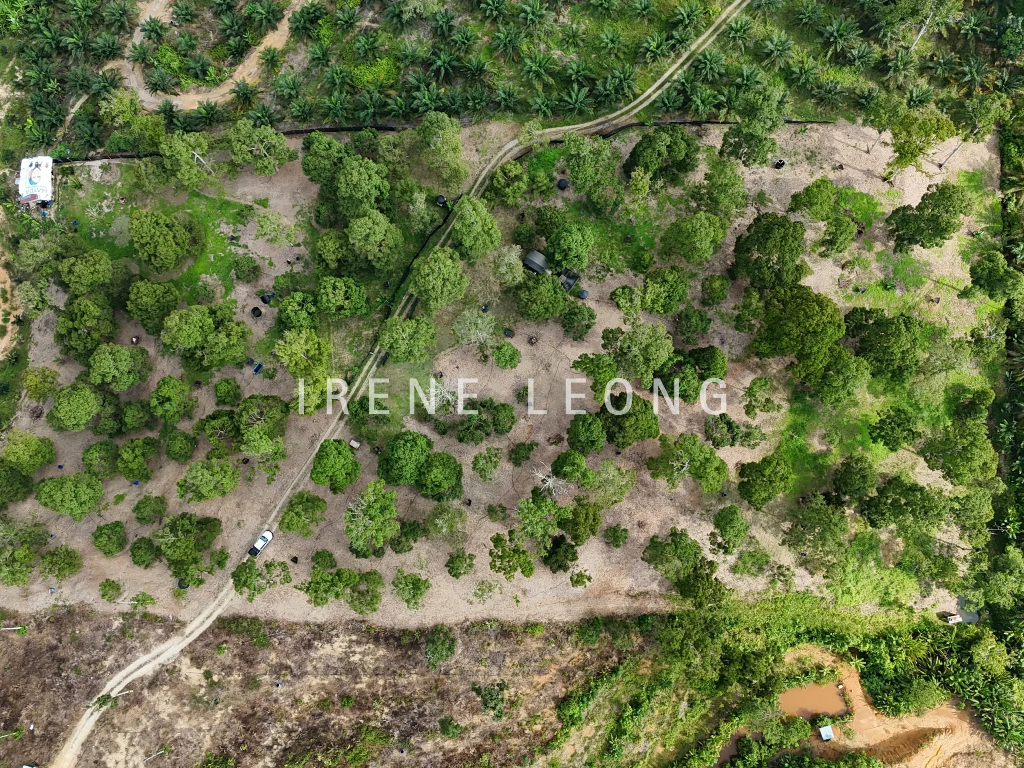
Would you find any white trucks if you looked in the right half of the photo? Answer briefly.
No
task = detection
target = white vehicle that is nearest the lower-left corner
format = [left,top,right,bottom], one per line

[249,530,275,559]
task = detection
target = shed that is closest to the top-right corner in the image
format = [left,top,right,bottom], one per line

[523,249,547,272]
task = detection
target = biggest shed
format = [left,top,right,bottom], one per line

[15,156,59,204]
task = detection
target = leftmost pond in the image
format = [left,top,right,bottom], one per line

[780,683,846,719]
